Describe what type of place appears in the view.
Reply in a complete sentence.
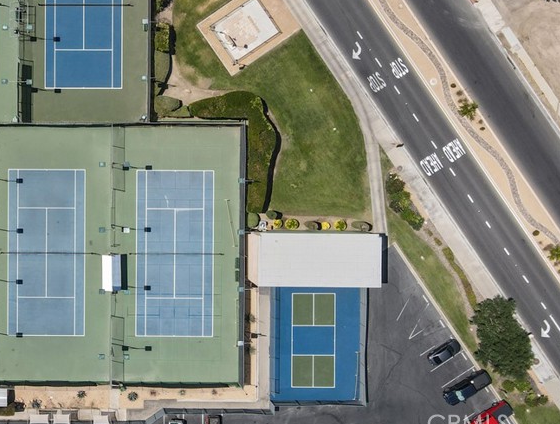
This image shows a sports ground.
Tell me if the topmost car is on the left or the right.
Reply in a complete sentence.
You can find the topmost car on the right side of the picture.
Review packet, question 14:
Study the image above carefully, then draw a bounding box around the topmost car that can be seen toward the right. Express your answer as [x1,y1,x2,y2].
[427,339,460,364]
